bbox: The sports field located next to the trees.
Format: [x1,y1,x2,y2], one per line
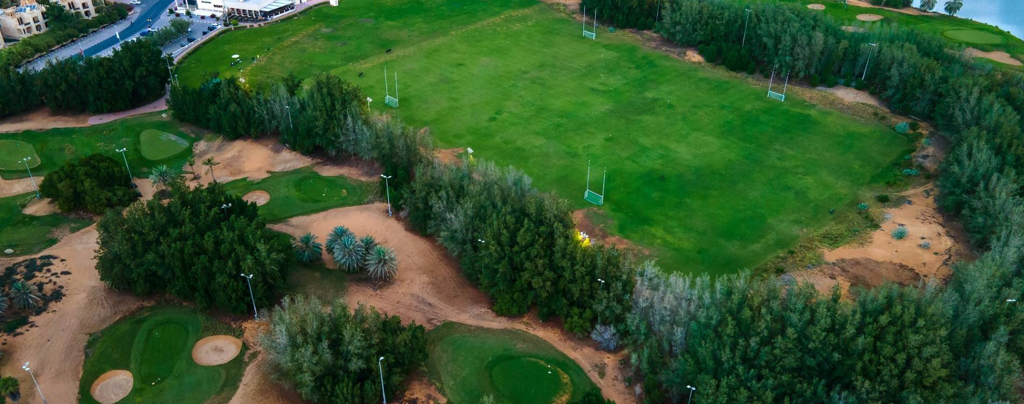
[176,0,916,302]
